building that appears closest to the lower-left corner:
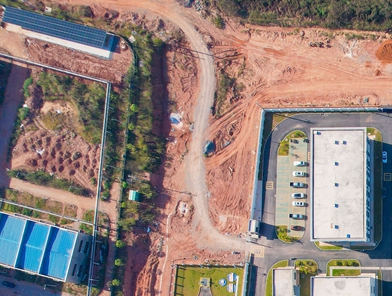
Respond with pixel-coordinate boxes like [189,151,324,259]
[0,211,91,284]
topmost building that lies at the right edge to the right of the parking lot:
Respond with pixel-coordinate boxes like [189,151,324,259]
[310,128,381,250]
